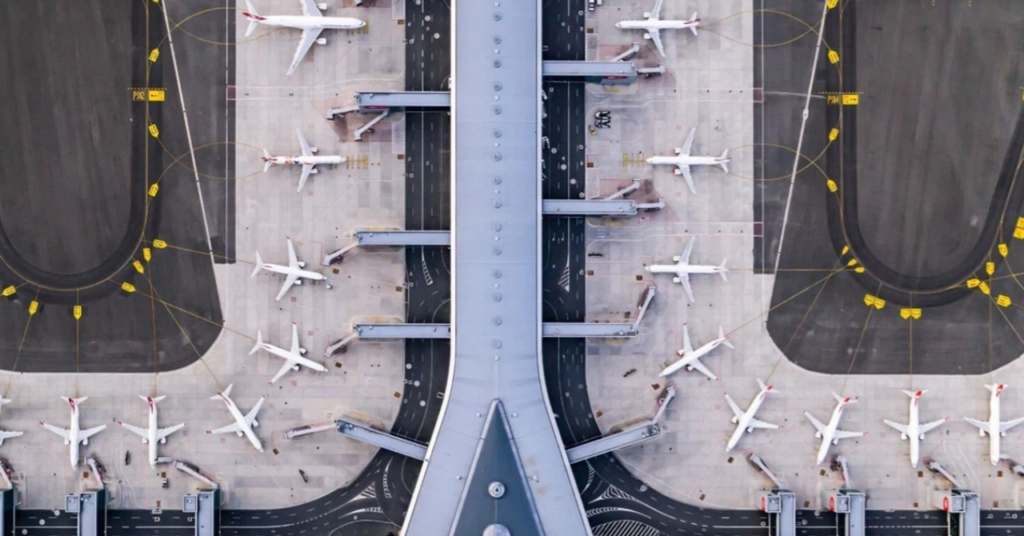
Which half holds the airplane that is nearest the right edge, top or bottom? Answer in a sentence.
The bottom half of the photo is where the airplane that is nearest the right edge is.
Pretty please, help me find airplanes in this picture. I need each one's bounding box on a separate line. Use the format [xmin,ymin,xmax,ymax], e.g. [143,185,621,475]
[42,395,108,468]
[241,0,366,75]
[646,126,731,193]
[645,236,728,302]
[659,326,731,383]
[262,126,346,193]
[962,382,1024,464]
[615,0,699,56]
[119,396,185,468]
[804,391,866,464]
[254,325,329,386]
[883,394,950,467]
[210,383,266,451]
[724,383,779,450]
[252,237,328,301]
